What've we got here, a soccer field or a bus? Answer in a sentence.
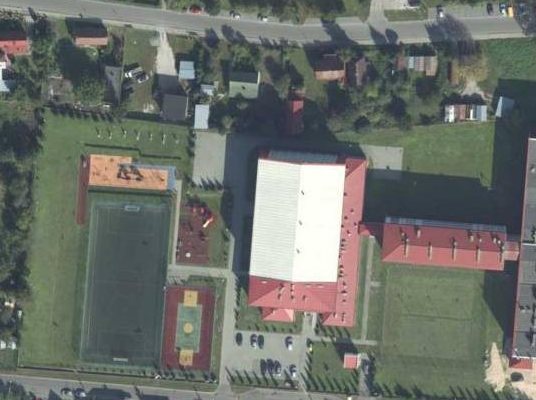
Looking from above, you can make out a soccer field.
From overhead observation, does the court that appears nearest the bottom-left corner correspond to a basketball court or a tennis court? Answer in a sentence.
It turns out the court that appears nearest the bottom-left corner is a basketball court.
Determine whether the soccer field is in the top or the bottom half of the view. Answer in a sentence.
The bottom half of the photo is where the soccer field is.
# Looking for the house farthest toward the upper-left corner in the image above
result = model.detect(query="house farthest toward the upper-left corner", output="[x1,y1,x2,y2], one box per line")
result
[0,25,29,56]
